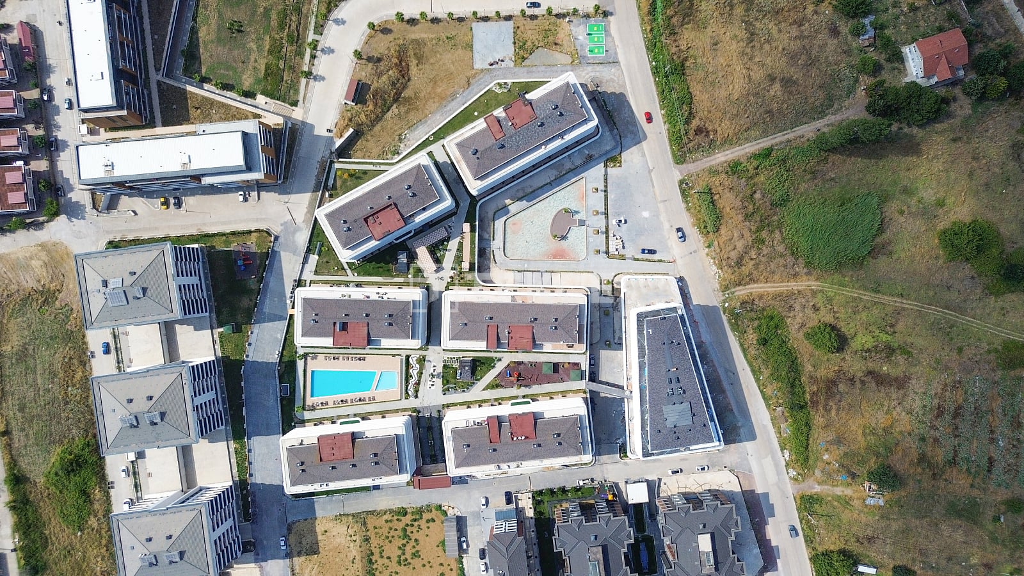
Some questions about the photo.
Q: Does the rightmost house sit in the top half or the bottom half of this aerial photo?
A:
top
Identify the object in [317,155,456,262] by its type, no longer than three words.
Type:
building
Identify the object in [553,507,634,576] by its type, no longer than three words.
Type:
house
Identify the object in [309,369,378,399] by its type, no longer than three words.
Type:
swimming pool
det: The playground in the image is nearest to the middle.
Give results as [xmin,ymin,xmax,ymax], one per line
[497,361,581,388]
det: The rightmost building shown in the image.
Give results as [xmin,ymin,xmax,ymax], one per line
[897,28,968,88]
